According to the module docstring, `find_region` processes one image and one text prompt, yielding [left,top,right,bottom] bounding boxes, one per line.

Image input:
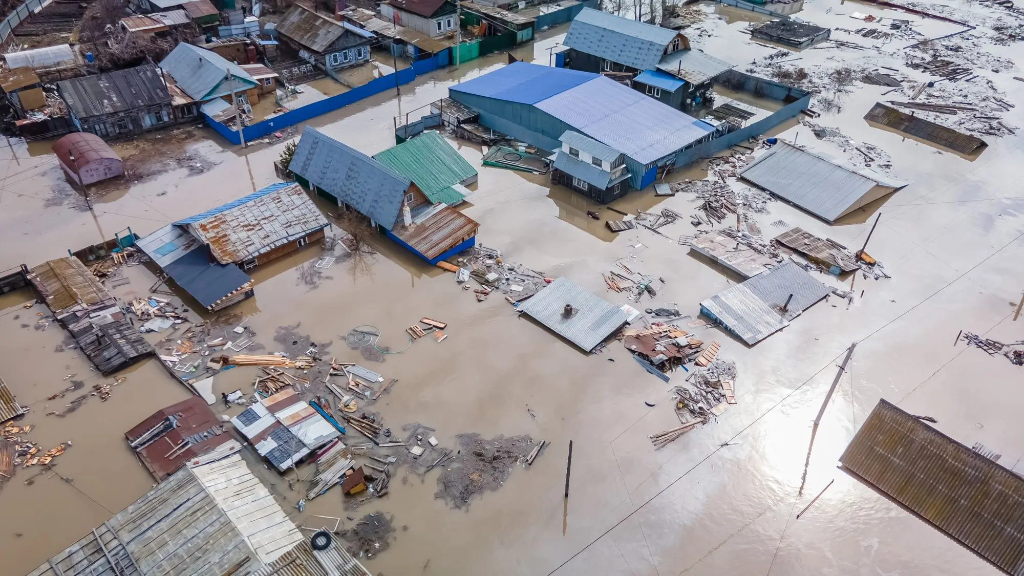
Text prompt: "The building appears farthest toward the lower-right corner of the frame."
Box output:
[838,396,1024,576]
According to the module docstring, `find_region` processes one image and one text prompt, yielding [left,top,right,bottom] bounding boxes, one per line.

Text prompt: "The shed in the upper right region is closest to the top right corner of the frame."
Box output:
[863,103,982,157]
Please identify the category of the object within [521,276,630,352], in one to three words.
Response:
house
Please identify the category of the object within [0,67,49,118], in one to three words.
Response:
shed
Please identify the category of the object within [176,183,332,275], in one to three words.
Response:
house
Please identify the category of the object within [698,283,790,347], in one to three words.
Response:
shed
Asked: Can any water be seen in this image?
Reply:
Yes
